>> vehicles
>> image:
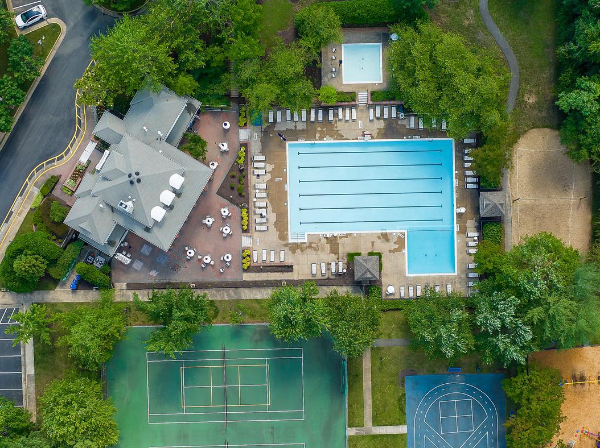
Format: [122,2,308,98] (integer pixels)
[16,5,48,28]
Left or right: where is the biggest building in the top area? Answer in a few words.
left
